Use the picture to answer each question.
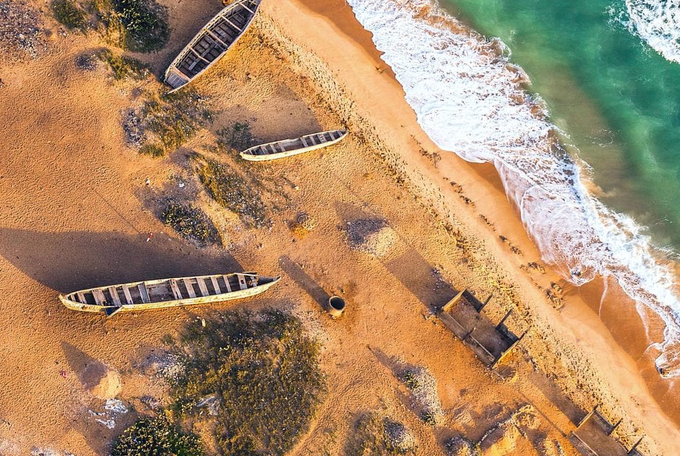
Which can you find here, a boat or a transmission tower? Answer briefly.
boat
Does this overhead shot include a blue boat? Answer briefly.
No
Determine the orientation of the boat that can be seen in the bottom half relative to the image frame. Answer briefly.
horizontally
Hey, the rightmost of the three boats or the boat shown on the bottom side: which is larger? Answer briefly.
the boat shown on the bottom side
